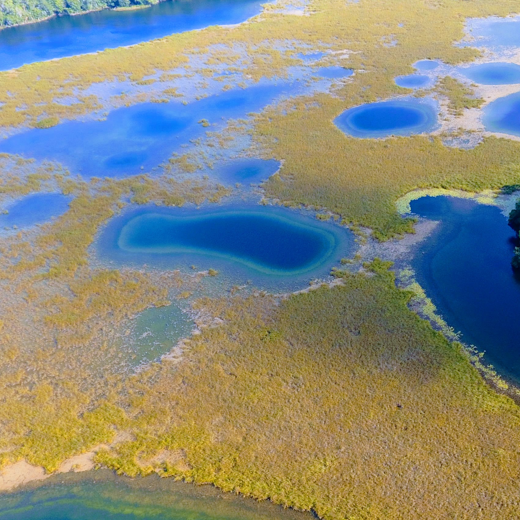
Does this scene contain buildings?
No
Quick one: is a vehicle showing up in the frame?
No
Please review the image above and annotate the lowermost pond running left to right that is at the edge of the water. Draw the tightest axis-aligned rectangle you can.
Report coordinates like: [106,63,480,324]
[122,216,332,270]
